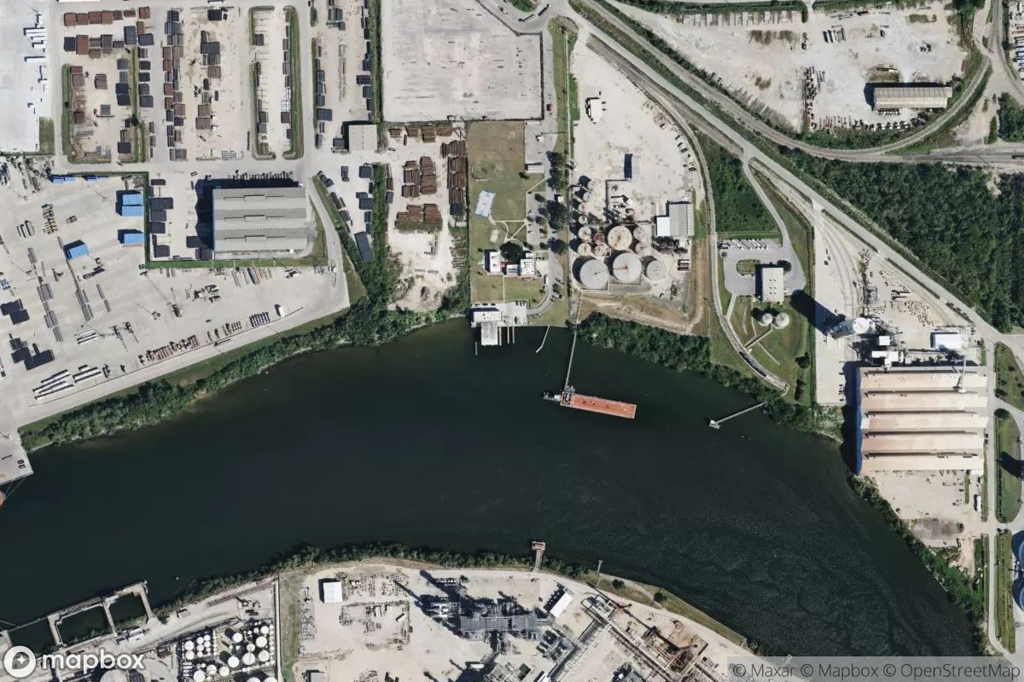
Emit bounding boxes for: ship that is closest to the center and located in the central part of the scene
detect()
[560,392,635,419]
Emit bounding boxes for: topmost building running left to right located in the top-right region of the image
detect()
[871,87,953,110]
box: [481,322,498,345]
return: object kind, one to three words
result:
pier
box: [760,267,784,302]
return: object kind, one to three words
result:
building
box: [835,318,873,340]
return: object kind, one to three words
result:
silo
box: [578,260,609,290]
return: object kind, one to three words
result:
storage tank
